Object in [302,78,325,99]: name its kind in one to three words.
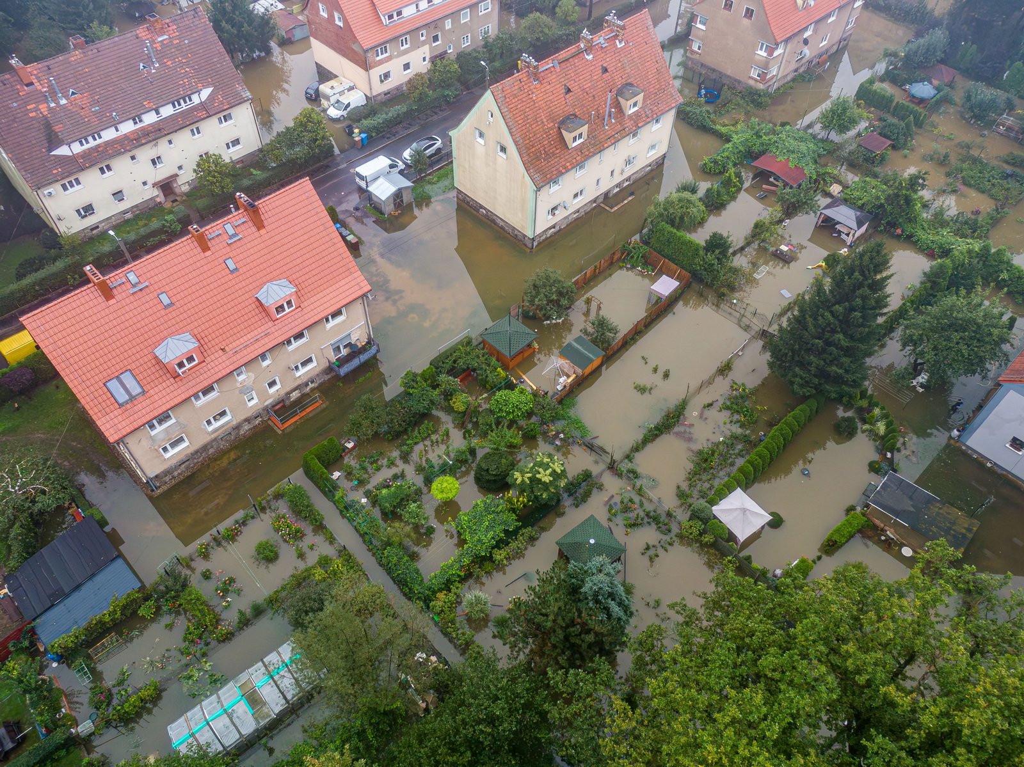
car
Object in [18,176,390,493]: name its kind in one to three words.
house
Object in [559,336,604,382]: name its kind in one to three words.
shed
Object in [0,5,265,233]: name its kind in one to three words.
house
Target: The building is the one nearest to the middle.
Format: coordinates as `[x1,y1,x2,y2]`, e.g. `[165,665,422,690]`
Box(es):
[480,313,538,372]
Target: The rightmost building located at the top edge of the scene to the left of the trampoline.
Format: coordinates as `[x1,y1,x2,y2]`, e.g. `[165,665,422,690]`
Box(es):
[449,9,682,249]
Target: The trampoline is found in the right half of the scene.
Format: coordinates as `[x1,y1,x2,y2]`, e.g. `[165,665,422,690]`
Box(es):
[698,74,722,104]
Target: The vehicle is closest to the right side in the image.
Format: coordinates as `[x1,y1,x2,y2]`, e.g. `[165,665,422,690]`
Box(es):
[402,134,446,160]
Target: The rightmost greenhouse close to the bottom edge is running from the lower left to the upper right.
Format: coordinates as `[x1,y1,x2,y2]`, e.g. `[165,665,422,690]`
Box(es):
[166,637,322,763]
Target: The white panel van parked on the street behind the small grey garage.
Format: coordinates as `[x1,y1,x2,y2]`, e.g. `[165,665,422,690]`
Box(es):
[354,155,404,188]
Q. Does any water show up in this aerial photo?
Yes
